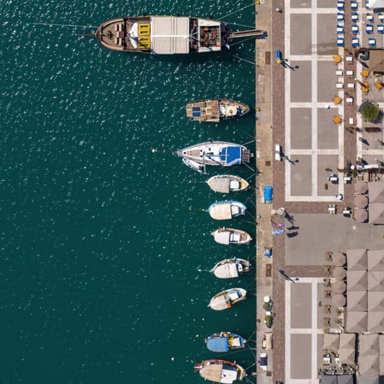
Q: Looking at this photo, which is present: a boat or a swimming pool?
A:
boat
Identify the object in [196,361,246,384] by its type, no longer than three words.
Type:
boat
